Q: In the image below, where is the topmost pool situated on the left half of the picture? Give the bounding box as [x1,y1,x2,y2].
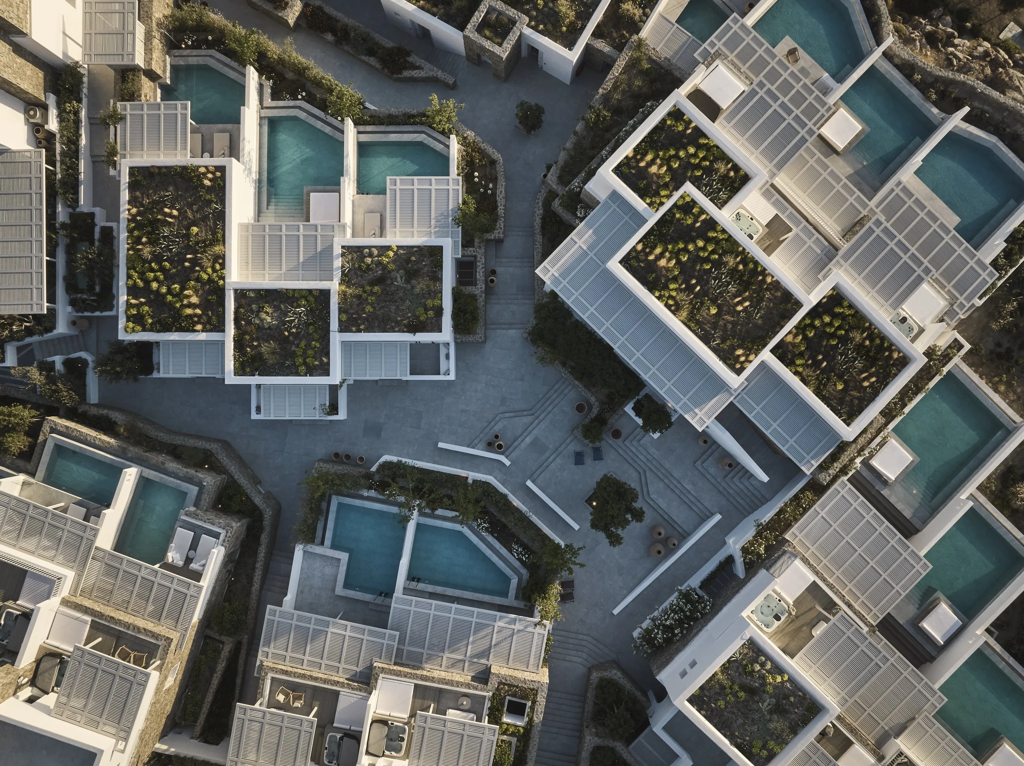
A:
[161,49,247,124]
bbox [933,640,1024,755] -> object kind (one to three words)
swimming pool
